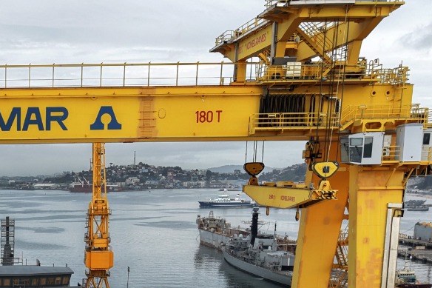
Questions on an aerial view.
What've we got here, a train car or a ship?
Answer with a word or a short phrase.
ship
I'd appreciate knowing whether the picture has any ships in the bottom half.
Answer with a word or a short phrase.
Yes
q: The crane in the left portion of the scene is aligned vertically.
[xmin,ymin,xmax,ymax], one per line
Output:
[79,143,111,288]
